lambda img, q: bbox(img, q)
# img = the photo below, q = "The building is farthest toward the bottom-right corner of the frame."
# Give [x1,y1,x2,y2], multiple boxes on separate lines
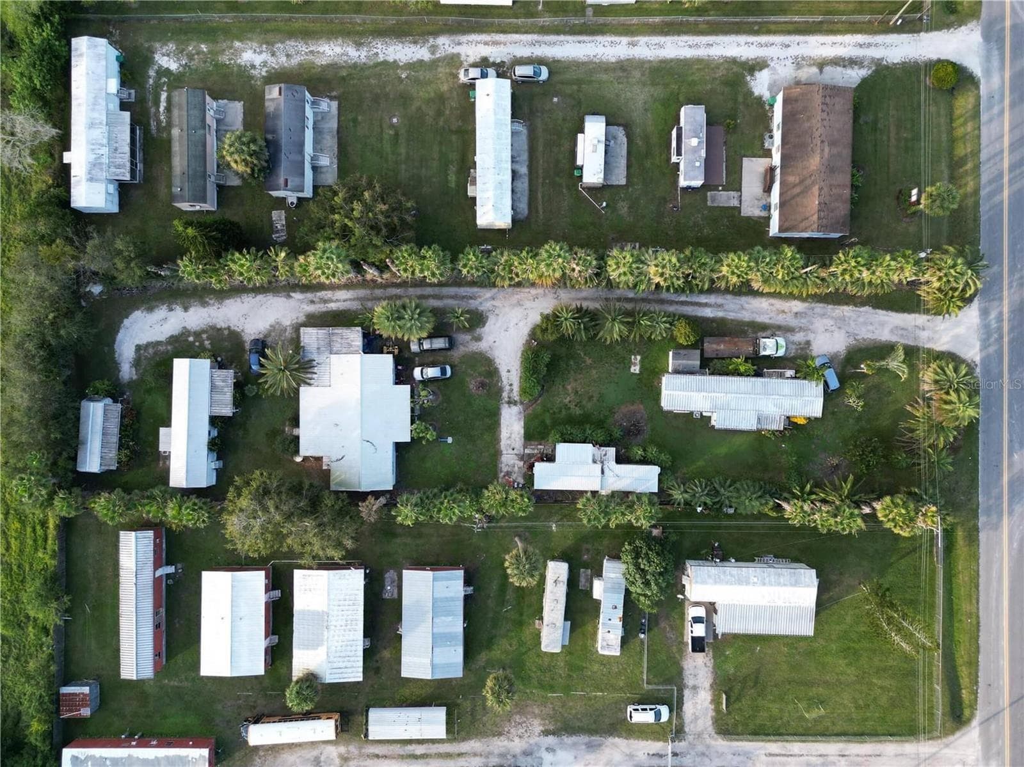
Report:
[685,561,822,637]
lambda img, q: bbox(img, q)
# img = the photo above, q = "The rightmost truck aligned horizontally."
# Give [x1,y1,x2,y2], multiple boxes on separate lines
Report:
[706,335,785,358]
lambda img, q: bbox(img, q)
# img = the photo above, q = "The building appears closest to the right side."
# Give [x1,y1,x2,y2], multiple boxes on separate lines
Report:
[772,85,854,237]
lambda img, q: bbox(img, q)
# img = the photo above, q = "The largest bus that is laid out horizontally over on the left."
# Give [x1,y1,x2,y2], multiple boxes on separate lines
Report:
[242,717,340,754]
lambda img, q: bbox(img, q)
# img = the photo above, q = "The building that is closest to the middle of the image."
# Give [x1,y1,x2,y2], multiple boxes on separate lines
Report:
[534,443,602,491]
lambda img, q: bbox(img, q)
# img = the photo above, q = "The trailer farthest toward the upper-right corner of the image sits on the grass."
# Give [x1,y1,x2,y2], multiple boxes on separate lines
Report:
[670,107,704,197]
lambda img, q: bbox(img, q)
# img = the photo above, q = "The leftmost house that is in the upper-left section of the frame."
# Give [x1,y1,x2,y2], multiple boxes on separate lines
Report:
[63,35,151,211]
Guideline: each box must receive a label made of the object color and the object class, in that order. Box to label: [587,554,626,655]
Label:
white trailer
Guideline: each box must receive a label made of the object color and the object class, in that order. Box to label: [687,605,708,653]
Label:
white vehicle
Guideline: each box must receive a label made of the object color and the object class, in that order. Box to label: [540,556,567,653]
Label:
white trailer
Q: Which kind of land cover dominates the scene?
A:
grass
